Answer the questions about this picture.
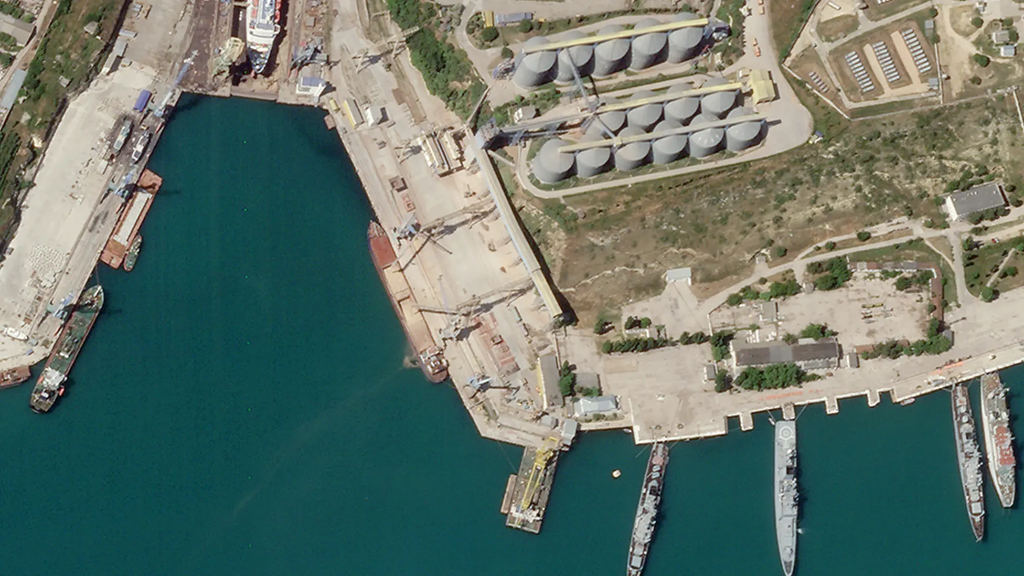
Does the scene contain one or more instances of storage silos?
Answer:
Yes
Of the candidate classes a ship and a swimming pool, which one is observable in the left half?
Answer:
ship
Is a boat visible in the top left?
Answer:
Yes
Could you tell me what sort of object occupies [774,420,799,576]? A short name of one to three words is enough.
ship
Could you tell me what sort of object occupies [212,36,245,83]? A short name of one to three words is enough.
crane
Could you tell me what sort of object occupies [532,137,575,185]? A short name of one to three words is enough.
silo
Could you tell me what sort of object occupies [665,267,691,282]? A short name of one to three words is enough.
building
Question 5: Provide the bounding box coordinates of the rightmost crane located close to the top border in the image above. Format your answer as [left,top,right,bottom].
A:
[352,24,421,71]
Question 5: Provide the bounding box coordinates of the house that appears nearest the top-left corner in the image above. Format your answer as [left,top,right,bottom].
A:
[0,17,40,51]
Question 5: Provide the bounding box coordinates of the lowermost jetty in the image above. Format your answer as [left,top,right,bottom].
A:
[498,475,517,516]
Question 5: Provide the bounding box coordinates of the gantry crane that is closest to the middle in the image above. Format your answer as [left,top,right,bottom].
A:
[453,276,535,322]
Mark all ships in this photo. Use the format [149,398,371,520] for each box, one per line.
[774,420,799,576]
[505,437,558,535]
[34,285,102,418]
[101,171,162,270]
[0,363,32,392]
[627,441,668,576]
[977,374,1016,505]
[372,220,448,385]
[950,383,984,539]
